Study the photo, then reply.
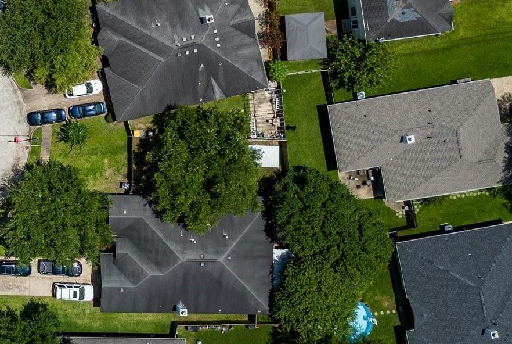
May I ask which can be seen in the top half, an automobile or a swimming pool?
automobile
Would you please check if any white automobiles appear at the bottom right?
No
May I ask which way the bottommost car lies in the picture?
horizontally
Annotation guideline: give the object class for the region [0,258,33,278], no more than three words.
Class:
car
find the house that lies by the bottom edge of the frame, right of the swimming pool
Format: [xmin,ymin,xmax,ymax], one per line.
[389,222,512,344]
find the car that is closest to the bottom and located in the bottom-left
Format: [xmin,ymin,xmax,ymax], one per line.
[52,282,94,303]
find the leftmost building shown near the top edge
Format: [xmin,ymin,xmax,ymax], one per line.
[95,0,269,122]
